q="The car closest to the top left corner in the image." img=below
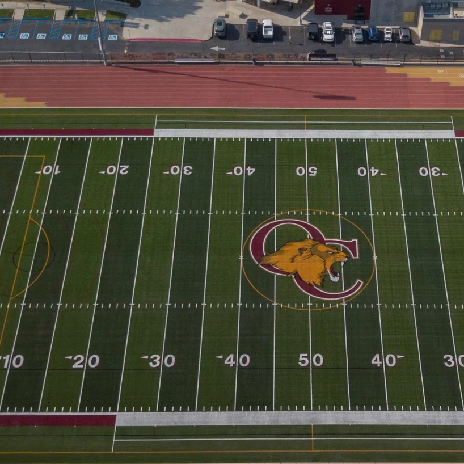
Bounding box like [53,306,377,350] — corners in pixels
[213,17,227,36]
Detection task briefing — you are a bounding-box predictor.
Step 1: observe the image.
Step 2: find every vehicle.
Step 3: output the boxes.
[366,22,380,41]
[322,18,335,41]
[262,17,275,37]
[306,22,320,39]
[398,22,412,40]
[382,23,395,40]
[352,18,365,41]
[246,19,259,39]
[213,17,227,36]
